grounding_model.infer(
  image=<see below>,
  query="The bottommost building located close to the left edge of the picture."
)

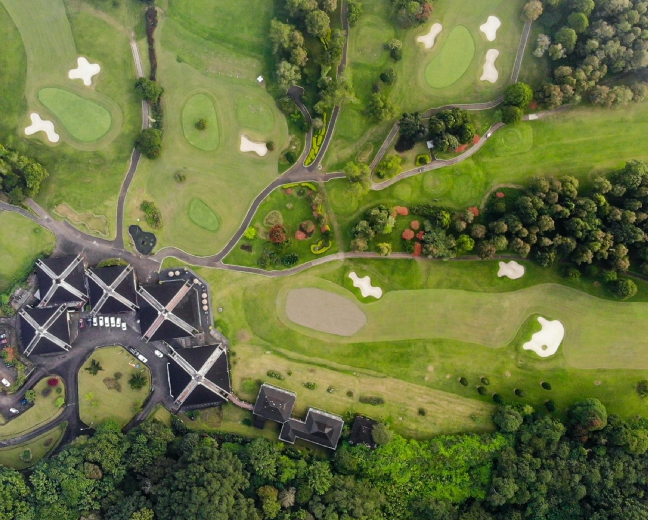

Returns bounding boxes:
[16,300,75,358]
